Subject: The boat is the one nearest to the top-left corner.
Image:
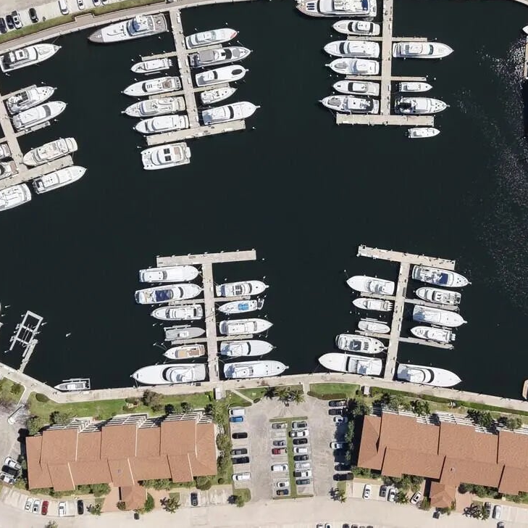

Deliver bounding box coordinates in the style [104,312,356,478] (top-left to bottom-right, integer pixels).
[0,44,61,73]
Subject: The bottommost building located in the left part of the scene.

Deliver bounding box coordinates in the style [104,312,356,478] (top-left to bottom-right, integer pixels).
[25,409,223,500]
